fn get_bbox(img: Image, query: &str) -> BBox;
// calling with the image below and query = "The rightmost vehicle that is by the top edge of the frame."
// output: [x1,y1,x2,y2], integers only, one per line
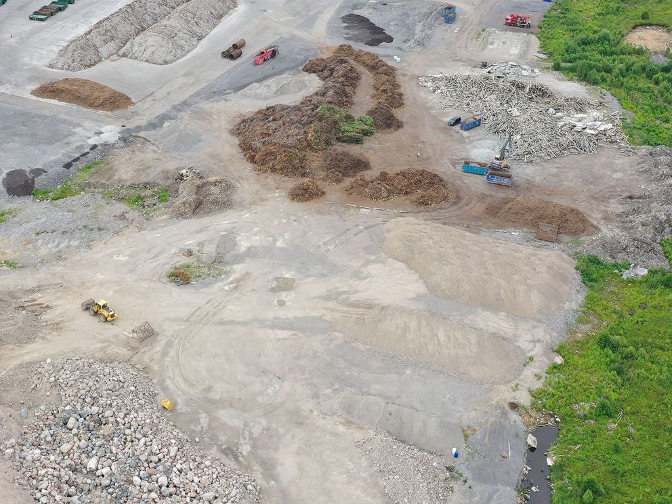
[504,14,533,26]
